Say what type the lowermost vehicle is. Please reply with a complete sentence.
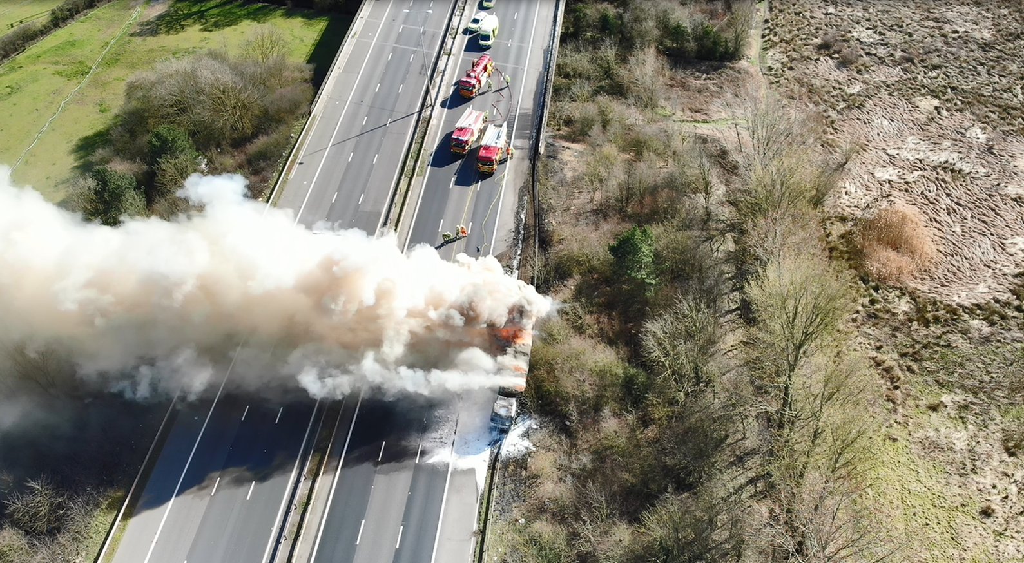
The lowermost vehicle appears to be a truck.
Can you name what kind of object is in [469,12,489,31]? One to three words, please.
car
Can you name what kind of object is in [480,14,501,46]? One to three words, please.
vehicle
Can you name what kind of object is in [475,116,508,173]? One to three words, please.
truck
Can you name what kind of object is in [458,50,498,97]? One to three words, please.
truck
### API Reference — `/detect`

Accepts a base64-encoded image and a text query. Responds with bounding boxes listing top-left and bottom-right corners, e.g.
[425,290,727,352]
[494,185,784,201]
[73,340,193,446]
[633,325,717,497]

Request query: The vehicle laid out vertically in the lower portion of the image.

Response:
[485,304,537,438]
